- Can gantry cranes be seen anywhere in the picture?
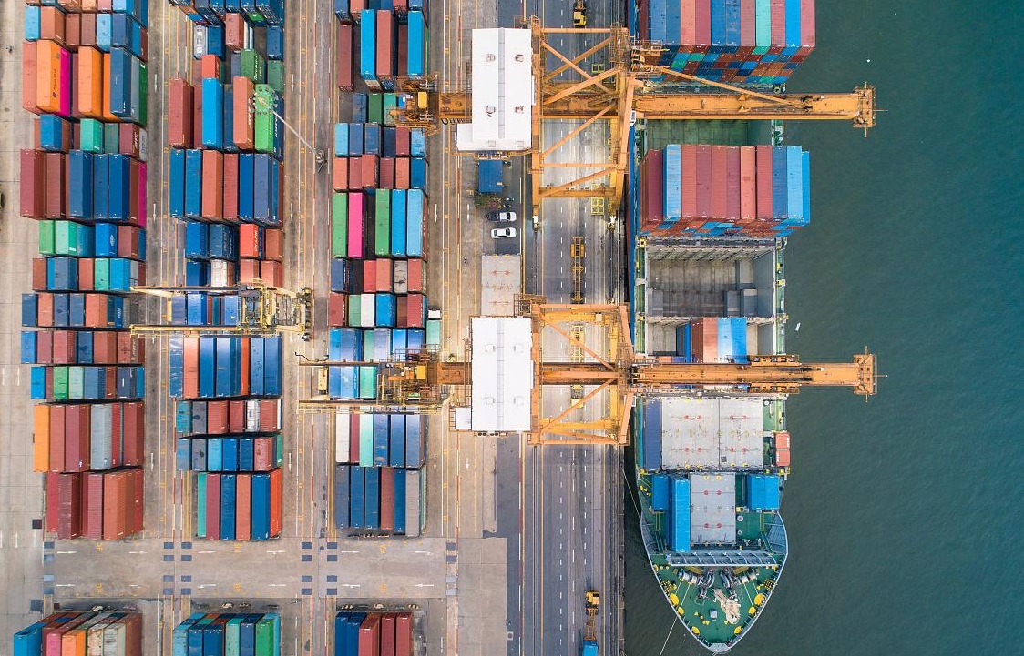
Yes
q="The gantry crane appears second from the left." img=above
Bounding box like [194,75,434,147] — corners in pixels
[299,357,458,414]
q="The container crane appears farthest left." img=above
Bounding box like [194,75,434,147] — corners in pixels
[132,284,310,342]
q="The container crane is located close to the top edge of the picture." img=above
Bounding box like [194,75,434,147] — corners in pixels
[391,8,890,241]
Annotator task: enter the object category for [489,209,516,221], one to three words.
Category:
vehicle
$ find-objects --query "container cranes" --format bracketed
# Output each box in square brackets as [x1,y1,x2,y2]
[299,357,458,414]
[391,8,890,241]
[390,290,891,456]
[132,284,310,342]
